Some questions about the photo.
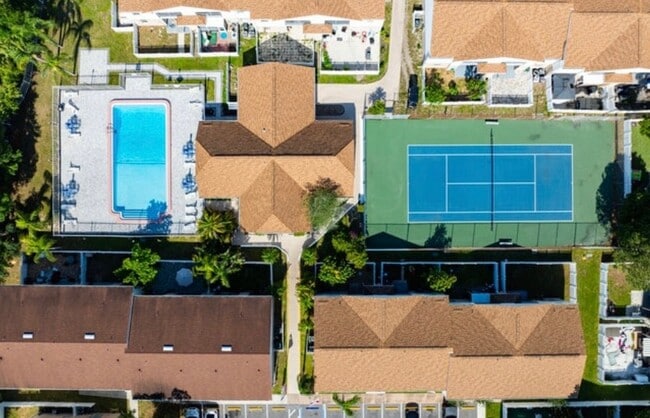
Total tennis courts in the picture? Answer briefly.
1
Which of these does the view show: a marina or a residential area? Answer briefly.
residential area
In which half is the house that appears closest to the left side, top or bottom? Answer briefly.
bottom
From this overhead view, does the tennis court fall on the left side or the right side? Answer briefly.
right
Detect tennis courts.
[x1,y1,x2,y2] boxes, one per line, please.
[364,119,617,249]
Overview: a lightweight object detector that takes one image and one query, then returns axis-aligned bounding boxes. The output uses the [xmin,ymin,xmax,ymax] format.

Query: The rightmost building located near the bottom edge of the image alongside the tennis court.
[449,296,589,399]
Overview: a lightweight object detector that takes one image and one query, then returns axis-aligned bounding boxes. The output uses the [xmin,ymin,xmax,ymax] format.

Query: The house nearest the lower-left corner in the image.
[0,284,145,390]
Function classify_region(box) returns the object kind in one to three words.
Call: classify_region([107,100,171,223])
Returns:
swimming pool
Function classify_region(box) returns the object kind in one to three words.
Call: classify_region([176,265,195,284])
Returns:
umbrella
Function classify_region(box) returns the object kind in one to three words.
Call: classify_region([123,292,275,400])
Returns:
house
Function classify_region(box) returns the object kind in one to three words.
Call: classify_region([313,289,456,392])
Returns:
house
